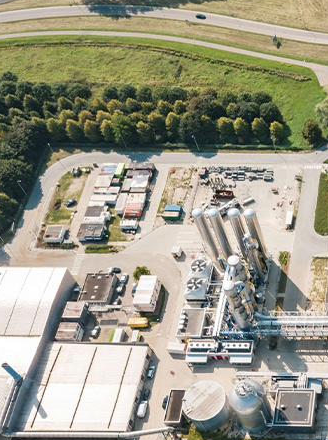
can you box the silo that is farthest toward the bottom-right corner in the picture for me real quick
[223,383,284,440]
